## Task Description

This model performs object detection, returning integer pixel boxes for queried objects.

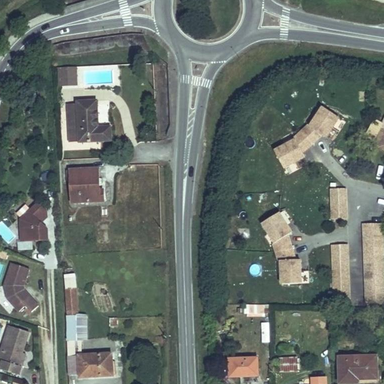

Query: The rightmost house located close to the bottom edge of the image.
[336,354,380,384]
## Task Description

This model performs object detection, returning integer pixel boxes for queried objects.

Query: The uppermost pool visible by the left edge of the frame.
[0,221,16,244]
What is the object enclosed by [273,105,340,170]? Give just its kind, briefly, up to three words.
house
